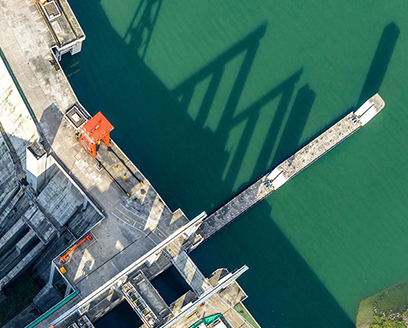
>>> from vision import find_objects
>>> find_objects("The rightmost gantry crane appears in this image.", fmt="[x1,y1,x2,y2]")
[77,107,119,161]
